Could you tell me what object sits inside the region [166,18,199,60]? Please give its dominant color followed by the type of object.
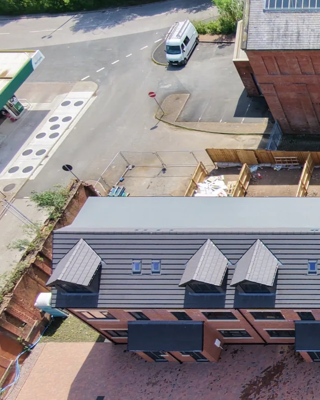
white van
